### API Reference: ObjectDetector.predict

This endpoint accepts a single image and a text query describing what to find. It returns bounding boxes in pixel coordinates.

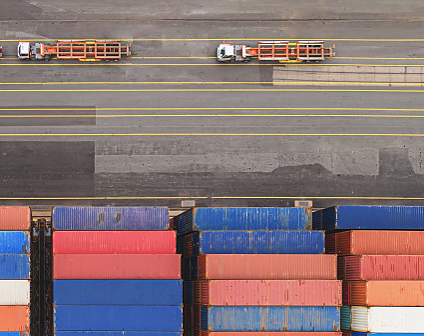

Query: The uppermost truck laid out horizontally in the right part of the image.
[221,38,333,63]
